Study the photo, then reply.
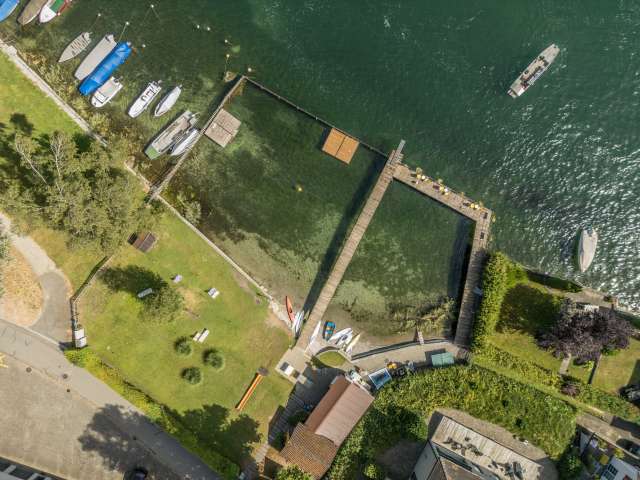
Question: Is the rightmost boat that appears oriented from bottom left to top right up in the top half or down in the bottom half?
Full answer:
You can find the rightmost boat that appears oriented from bottom left to top right in the top half.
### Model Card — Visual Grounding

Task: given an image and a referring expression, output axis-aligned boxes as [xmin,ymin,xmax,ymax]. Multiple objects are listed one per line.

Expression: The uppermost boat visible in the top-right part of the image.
[505,42,559,100]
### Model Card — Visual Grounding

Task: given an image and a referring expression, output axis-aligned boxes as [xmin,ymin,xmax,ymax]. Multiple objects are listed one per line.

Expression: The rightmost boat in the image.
[578,227,598,272]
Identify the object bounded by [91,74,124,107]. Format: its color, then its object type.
white boat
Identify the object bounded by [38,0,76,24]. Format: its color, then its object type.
white boat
